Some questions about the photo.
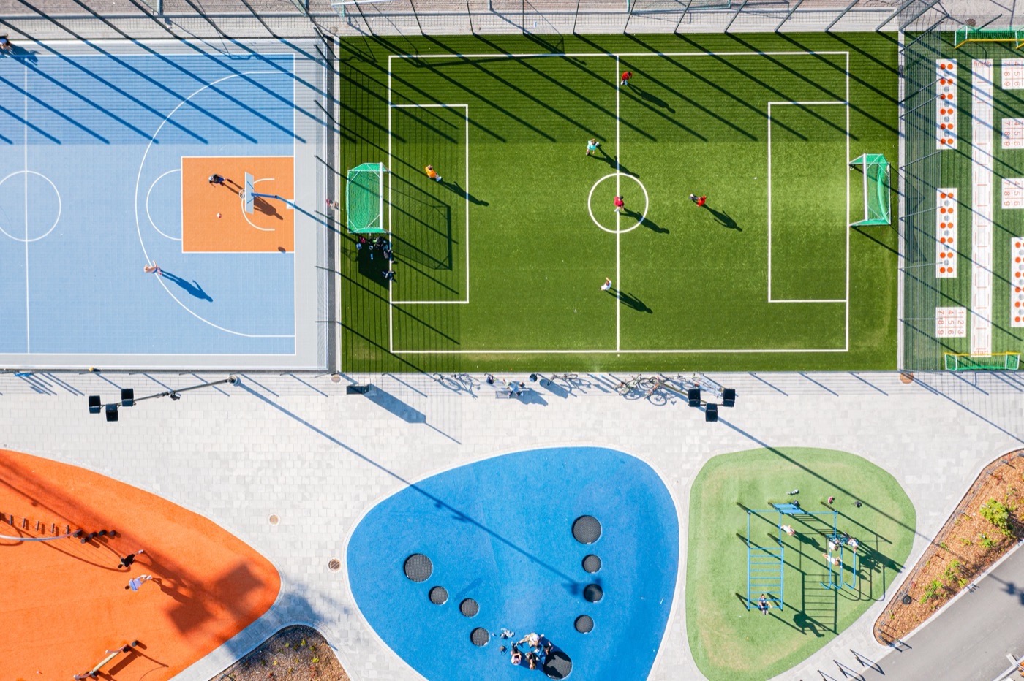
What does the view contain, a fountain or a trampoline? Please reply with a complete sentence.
It is a trampoline that can be seen here.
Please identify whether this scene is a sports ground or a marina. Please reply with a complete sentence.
This looks like a sports ground.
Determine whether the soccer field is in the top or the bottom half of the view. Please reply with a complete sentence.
The soccer field sits in the top half of the picture.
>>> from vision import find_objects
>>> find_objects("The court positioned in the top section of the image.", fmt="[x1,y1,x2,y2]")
[0,38,328,368]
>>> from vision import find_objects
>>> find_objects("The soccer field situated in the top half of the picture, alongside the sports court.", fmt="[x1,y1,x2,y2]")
[340,31,899,372]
